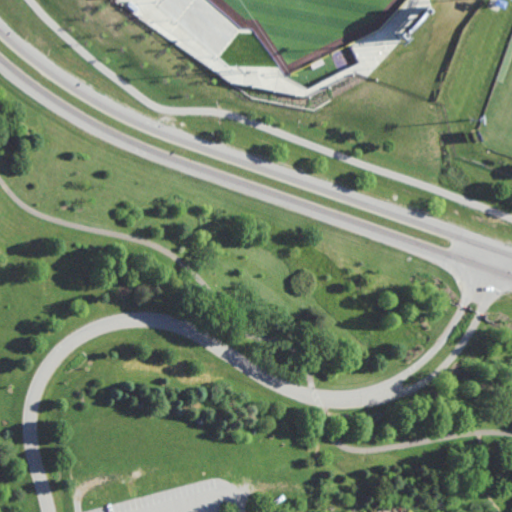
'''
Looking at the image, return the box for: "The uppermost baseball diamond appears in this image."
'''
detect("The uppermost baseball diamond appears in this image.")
[208,0,404,74]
